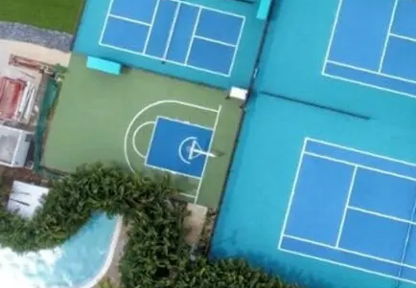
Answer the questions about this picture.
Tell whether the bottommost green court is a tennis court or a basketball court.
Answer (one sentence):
What you see as the bottommost green court is a basketball court.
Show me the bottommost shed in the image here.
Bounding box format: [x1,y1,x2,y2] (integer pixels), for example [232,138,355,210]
[6,180,53,217]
